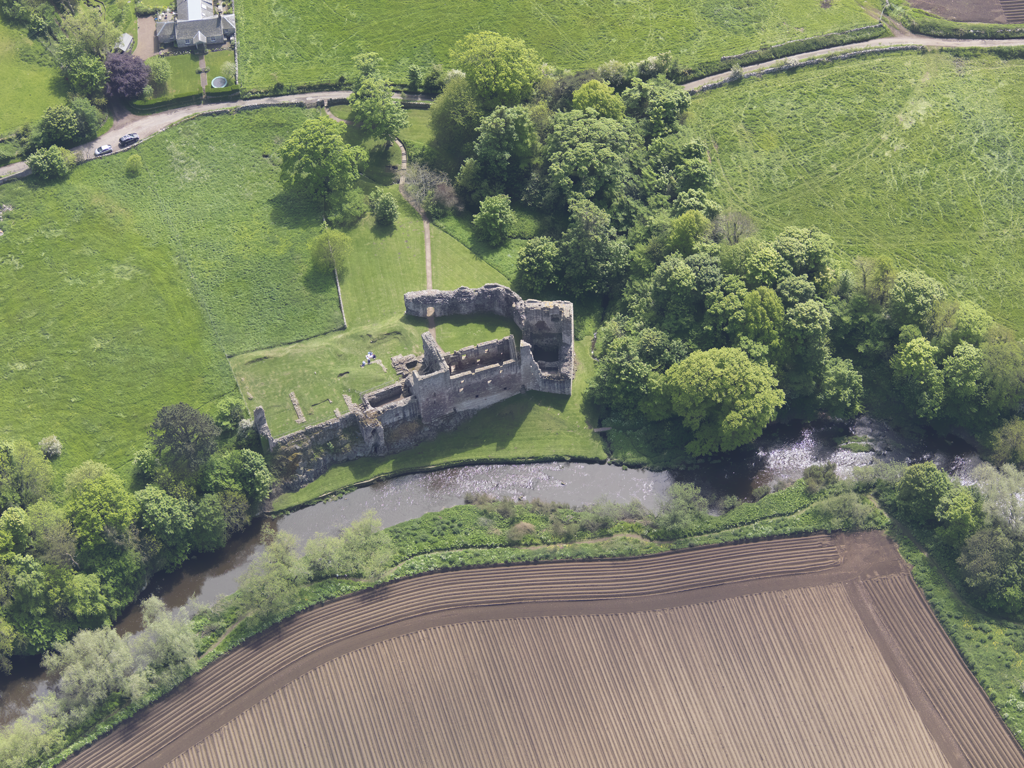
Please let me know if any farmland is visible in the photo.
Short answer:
Yes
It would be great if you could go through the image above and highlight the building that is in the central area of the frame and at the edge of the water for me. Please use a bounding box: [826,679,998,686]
[254,277,574,457]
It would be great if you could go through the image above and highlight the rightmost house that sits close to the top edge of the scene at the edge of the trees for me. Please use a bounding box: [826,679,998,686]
[156,0,237,57]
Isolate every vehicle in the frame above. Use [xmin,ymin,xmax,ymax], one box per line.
[118,132,140,145]
[94,143,113,153]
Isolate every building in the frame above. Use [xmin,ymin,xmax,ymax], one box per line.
[156,0,237,57]
[254,277,574,457]
[114,29,132,51]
